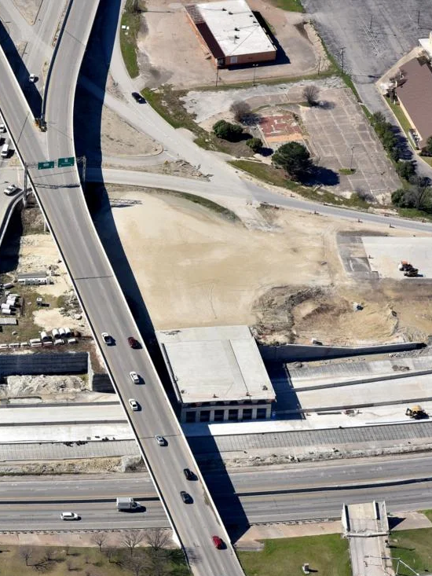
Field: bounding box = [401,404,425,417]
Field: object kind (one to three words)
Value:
vehicle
